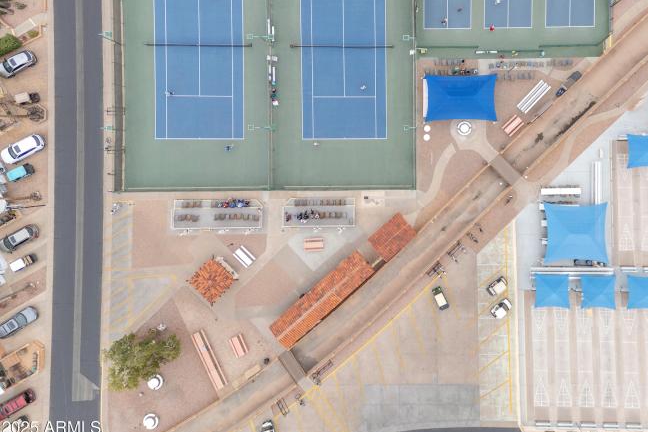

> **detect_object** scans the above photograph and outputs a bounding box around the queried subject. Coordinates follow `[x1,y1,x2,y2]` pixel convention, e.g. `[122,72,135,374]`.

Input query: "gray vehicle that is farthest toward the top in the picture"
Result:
[0,47,34,77]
